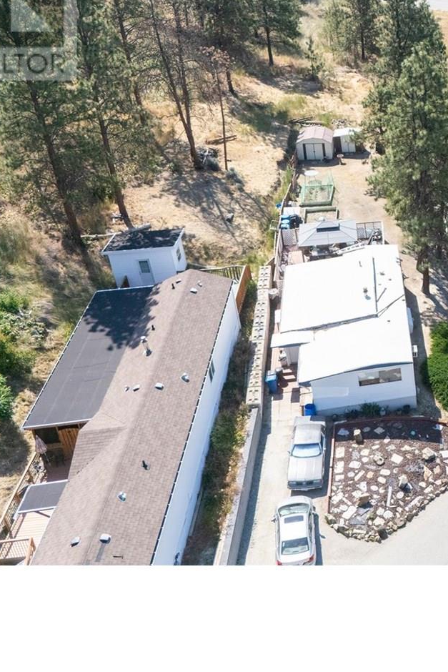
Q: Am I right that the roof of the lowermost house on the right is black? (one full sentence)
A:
No, the roof of the lowermost house on the right is white.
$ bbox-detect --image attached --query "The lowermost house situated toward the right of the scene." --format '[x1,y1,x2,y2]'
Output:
[267,243,418,439]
